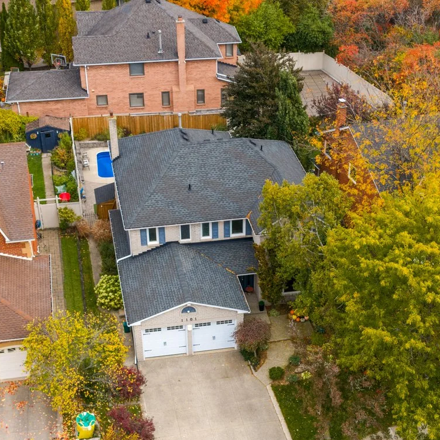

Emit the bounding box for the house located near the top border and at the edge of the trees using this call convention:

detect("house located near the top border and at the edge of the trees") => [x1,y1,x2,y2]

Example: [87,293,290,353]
[5,0,244,123]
